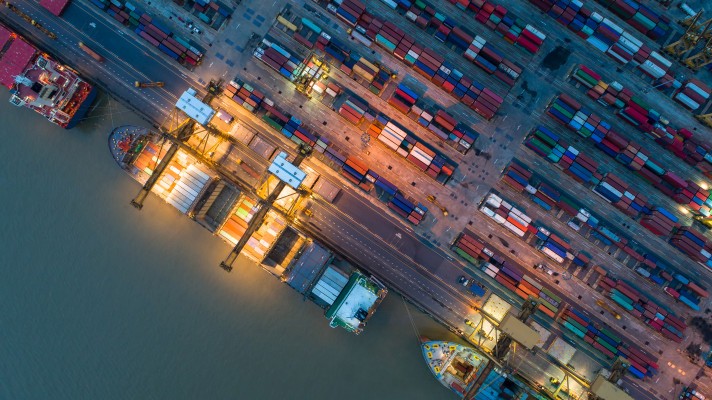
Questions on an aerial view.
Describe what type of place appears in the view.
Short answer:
port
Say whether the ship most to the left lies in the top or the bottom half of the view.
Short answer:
top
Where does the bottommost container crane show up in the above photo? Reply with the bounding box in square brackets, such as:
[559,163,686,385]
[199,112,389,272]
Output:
[534,353,634,400]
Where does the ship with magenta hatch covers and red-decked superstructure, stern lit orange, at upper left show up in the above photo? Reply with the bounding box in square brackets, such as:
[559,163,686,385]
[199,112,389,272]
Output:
[0,20,104,127]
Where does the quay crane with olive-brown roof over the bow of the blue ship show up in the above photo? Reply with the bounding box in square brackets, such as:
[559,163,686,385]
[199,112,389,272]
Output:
[458,292,544,400]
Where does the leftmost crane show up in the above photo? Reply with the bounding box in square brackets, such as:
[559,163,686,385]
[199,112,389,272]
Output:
[127,77,236,210]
